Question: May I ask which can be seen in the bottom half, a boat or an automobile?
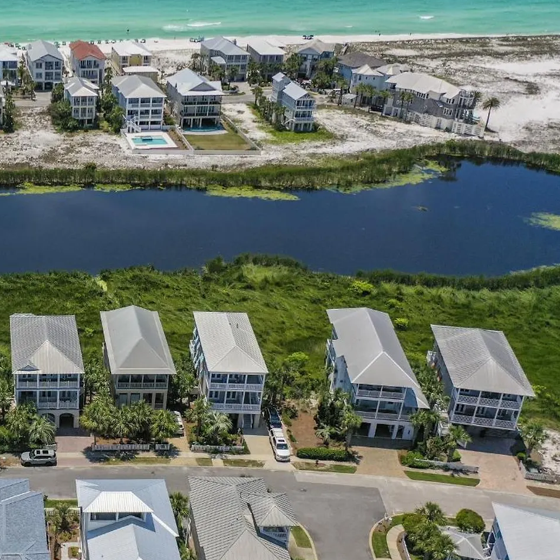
automobile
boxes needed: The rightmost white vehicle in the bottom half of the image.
[268,427,290,459]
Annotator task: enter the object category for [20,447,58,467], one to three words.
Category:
car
